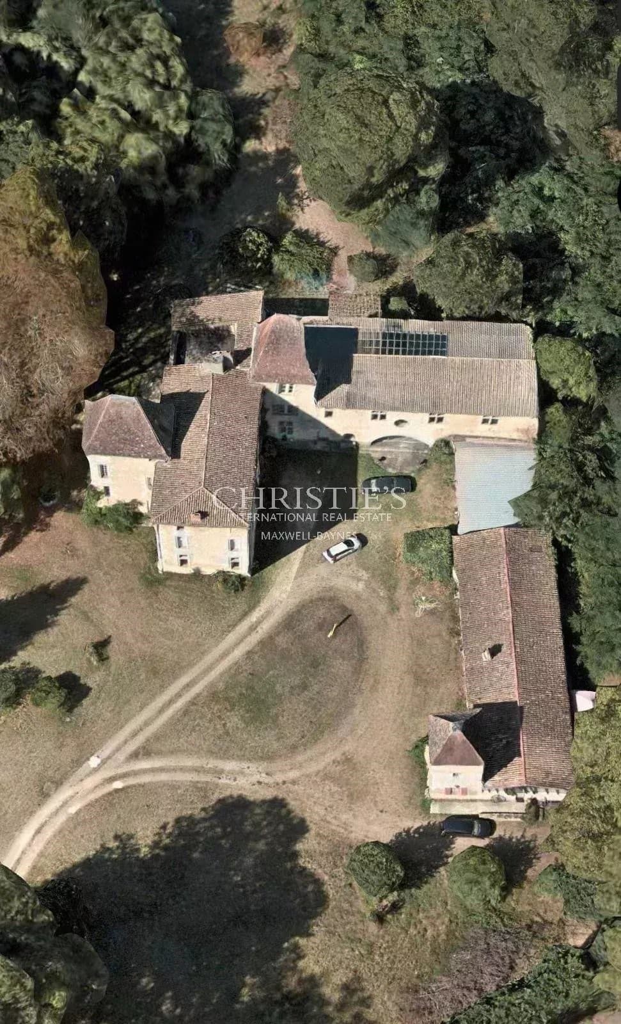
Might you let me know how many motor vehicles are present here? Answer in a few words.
3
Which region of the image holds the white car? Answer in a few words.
center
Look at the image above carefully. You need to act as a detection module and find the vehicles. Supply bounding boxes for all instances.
[361,472,412,497]
[439,813,496,842]
[319,533,366,567]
